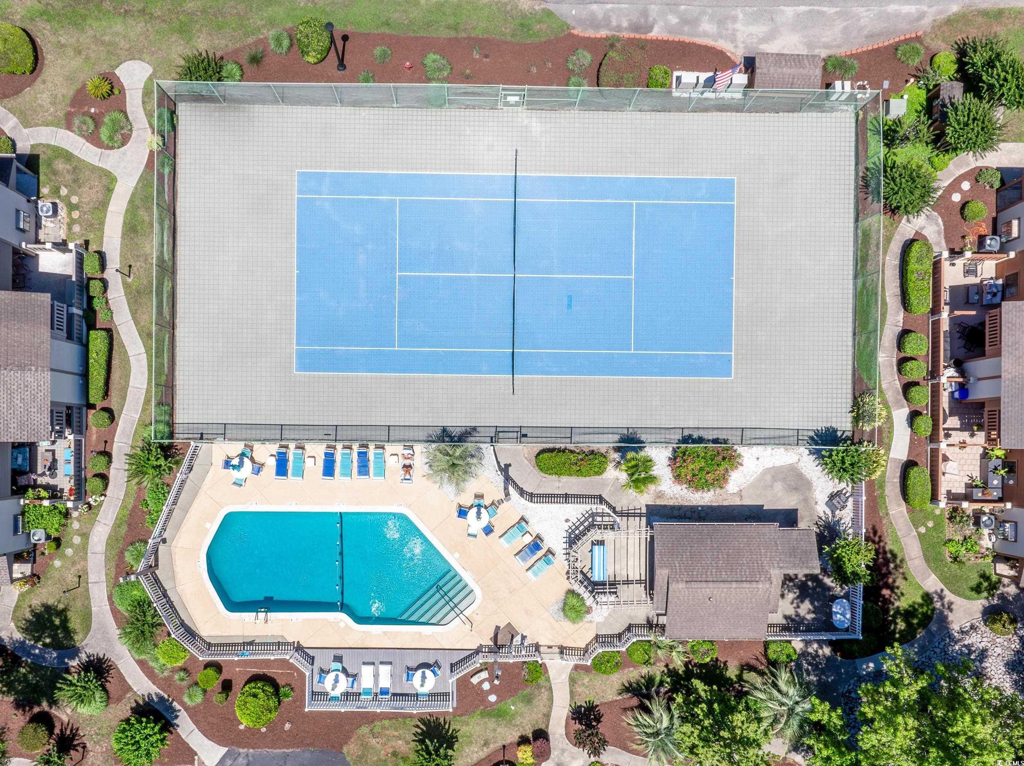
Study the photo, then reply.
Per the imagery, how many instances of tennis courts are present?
one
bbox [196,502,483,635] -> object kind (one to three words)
swimming pool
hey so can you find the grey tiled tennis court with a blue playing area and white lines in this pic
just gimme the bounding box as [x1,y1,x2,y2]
[175,102,855,446]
